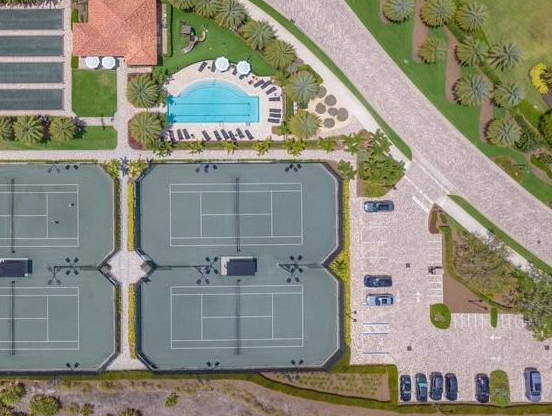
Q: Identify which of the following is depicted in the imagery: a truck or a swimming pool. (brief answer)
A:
swimming pool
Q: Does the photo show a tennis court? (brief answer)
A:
Yes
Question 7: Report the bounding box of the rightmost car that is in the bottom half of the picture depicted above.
[524,369,542,399]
